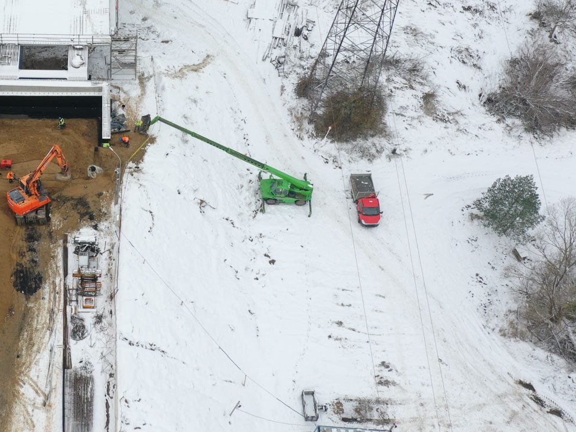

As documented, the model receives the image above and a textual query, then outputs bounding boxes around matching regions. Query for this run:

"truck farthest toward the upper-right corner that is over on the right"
[349,174,383,226]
